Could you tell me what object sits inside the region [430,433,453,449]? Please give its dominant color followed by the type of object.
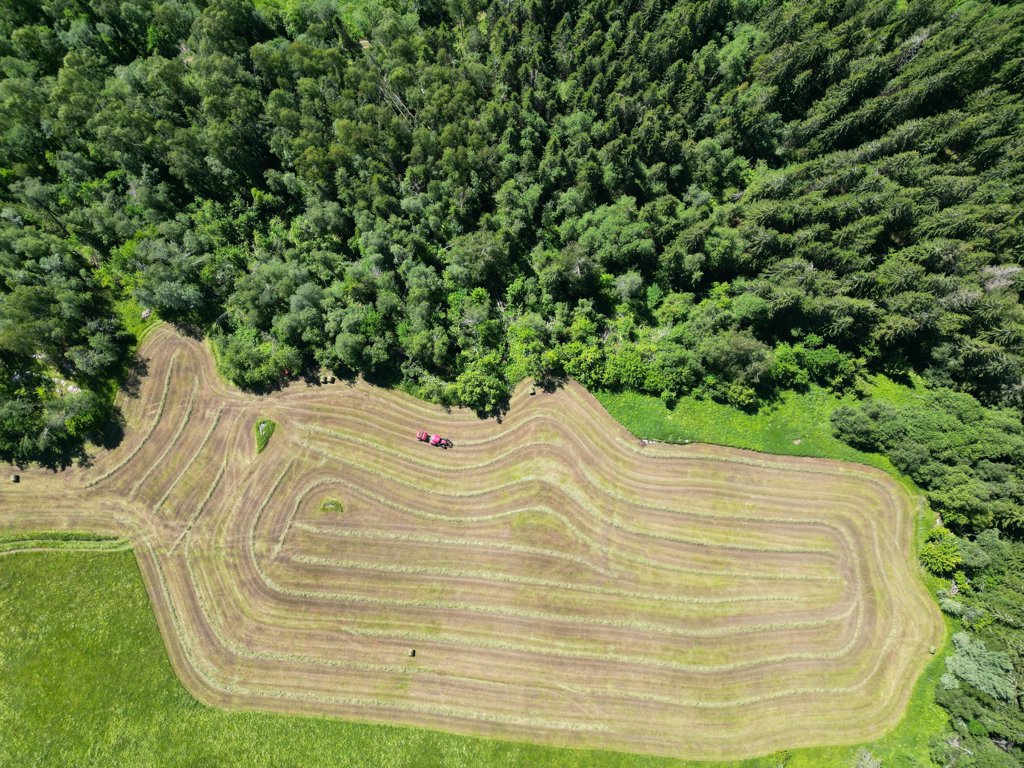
pink work vehicle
